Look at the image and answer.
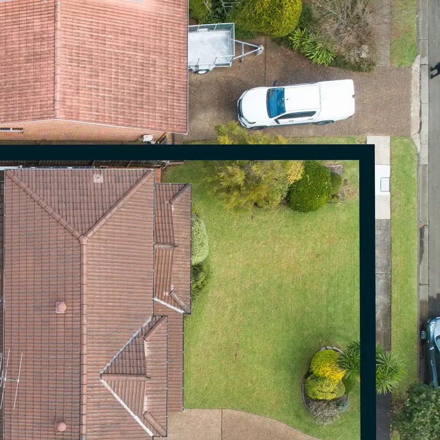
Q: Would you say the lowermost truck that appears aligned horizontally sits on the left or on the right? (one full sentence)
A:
The lowermost truck that appears aligned horizontally is on the right side of the image.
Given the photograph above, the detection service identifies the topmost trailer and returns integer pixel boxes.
[191,21,263,75]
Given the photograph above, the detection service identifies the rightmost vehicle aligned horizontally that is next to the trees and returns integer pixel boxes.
[234,81,356,132]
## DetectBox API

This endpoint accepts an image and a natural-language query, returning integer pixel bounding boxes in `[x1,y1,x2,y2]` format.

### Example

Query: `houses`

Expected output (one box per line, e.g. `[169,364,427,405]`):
[0,0,191,141]
[0,166,194,440]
